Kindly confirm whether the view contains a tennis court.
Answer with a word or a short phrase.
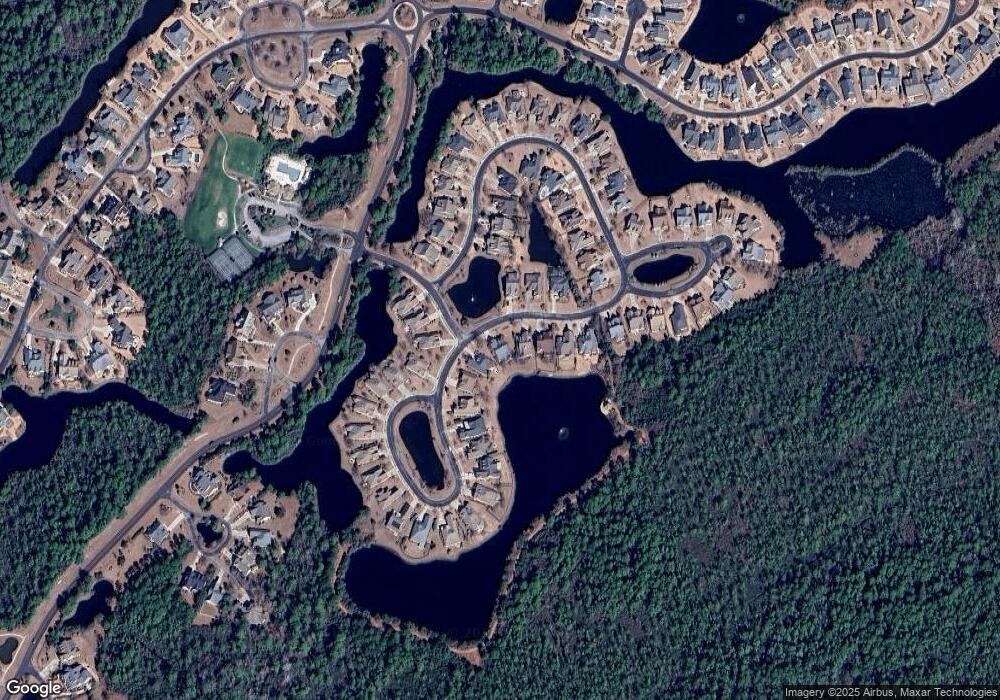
Yes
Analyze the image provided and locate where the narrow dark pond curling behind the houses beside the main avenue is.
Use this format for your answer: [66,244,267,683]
[301,45,387,157]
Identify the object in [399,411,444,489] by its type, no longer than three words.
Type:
pond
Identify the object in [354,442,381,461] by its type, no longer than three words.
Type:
house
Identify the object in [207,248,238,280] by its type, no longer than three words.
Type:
tennis court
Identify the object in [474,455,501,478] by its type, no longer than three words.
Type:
house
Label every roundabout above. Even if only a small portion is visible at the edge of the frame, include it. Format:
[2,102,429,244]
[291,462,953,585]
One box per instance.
[382,0,429,46]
